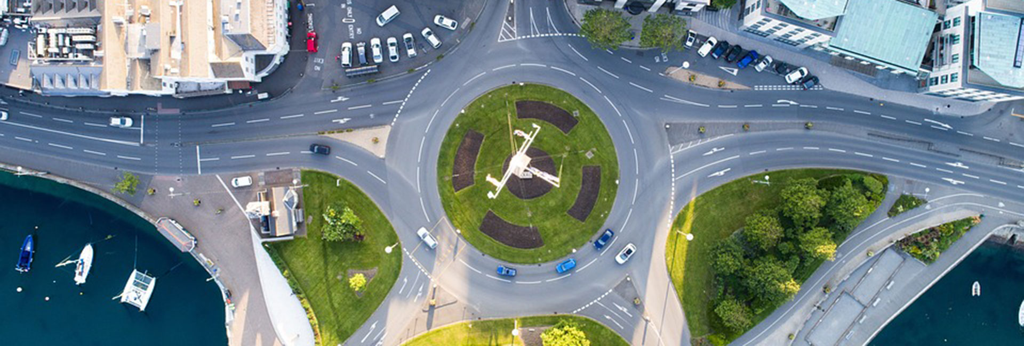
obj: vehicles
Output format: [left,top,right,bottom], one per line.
[710,39,730,60]
[737,48,761,70]
[369,36,382,62]
[697,34,720,58]
[386,36,399,62]
[774,59,792,76]
[415,226,439,250]
[433,12,458,30]
[0,109,9,121]
[754,53,774,73]
[784,65,810,84]
[356,41,366,64]
[554,259,578,273]
[340,41,352,66]
[725,41,745,64]
[305,31,317,52]
[229,176,252,188]
[615,242,638,265]
[801,73,822,90]
[594,227,615,251]
[107,116,132,127]
[374,4,401,25]
[420,25,442,49]
[402,31,417,57]
[308,143,331,155]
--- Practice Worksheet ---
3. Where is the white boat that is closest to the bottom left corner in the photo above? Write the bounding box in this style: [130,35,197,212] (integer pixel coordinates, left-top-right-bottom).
[58,245,89,286]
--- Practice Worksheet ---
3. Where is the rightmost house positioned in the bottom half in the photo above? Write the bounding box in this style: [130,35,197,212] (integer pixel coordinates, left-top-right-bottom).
[245,187,306,237]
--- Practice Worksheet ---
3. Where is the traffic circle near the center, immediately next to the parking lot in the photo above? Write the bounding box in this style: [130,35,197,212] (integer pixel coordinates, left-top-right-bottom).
[384,33,673,318]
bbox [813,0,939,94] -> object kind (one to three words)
building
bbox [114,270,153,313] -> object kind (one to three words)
boat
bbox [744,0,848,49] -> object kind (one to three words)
building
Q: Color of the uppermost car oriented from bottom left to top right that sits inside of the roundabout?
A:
blue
